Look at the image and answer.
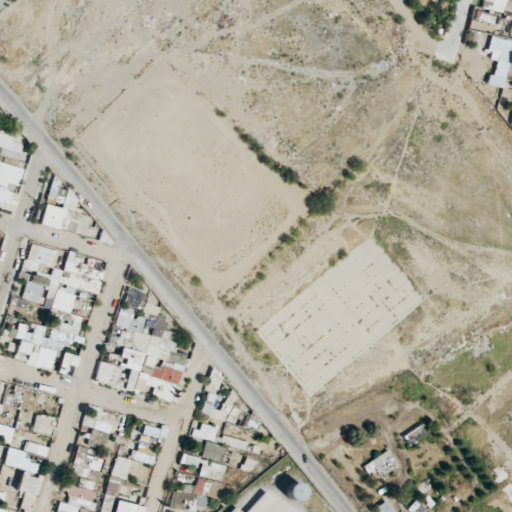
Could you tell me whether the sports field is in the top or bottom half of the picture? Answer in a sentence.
It is in the top half that the sports field appears.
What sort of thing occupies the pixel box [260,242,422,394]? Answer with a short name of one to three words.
sports court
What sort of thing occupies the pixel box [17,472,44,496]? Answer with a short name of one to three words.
house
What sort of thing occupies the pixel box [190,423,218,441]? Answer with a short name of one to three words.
house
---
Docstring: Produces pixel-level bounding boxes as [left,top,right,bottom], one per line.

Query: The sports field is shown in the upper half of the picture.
[96,68,310,282]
